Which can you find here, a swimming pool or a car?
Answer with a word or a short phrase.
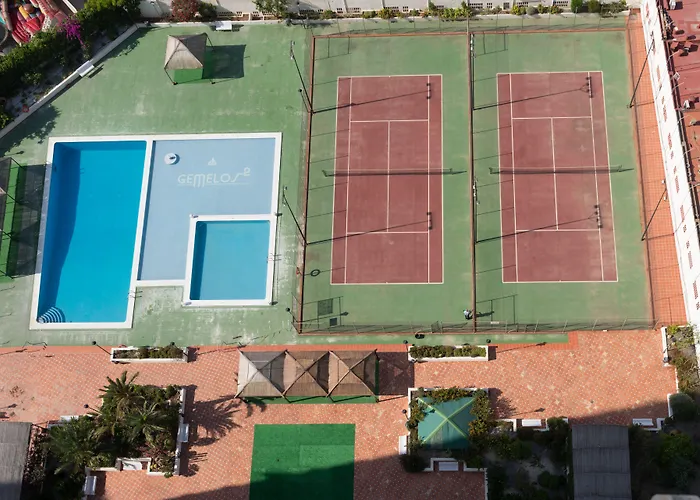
swimming pool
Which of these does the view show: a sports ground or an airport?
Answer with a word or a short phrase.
sports ground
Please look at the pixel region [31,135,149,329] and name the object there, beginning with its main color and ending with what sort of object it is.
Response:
blue swimming pool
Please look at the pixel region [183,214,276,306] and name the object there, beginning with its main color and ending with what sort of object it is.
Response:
blue swimming pool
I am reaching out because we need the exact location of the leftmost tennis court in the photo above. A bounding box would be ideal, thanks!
[300,34,473,332]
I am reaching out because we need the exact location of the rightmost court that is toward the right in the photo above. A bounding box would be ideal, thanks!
[472,29,651,330]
